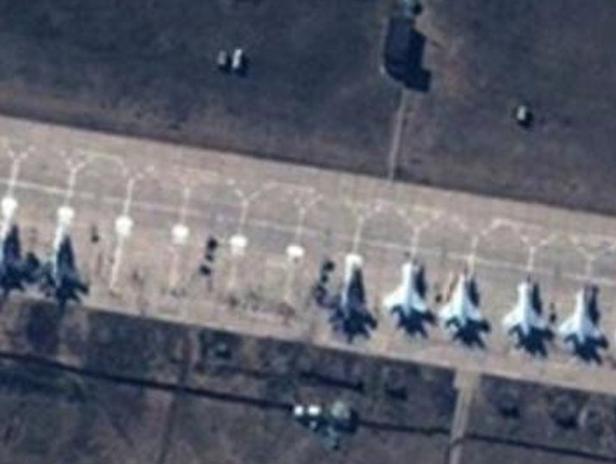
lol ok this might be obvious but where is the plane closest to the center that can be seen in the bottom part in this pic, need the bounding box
[328,266,372,332]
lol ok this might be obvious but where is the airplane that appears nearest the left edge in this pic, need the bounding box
[0,221,29,289]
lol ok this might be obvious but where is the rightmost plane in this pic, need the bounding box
[559,283,603,352]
